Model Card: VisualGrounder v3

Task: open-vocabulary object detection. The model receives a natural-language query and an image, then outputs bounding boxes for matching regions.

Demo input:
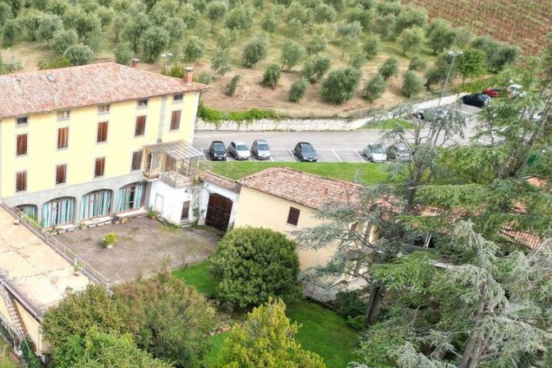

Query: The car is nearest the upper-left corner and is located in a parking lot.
[209,137,227,157]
